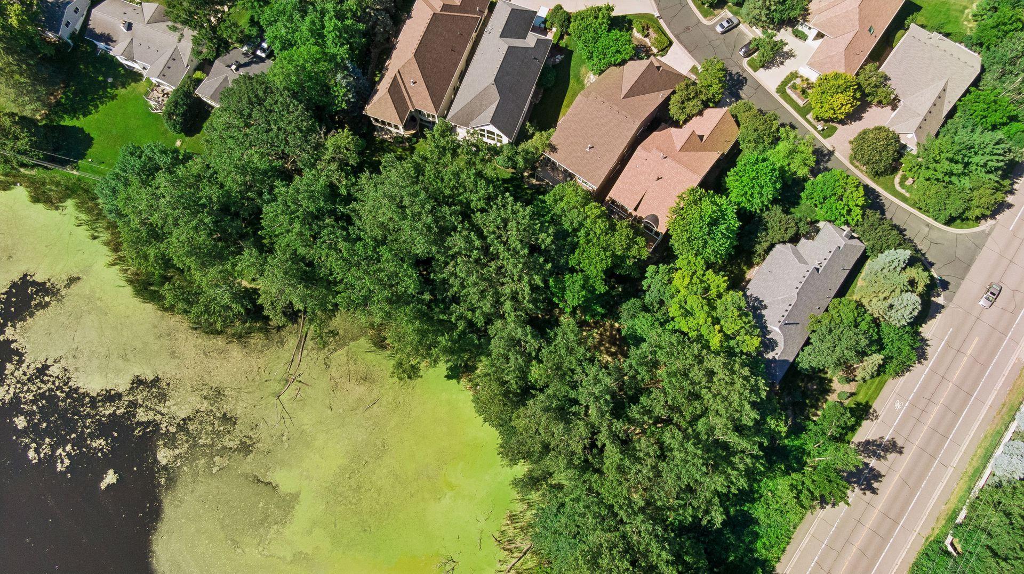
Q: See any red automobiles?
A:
No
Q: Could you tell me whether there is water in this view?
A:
Yes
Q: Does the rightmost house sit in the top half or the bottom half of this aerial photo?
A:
top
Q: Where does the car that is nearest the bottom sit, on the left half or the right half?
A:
right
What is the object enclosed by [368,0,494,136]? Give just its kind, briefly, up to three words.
house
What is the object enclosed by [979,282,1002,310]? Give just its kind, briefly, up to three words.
car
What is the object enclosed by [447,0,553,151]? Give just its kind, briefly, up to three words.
house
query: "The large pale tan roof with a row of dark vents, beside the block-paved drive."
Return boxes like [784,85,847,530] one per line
[879,23,981,155]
